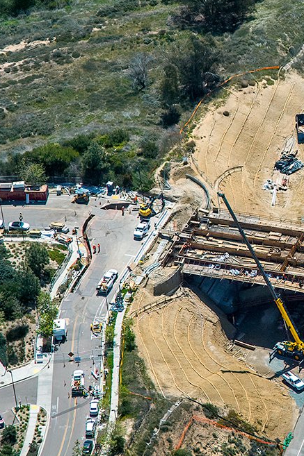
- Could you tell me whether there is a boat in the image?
No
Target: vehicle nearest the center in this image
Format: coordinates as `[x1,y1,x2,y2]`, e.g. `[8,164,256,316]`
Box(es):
[134,219,149,239]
